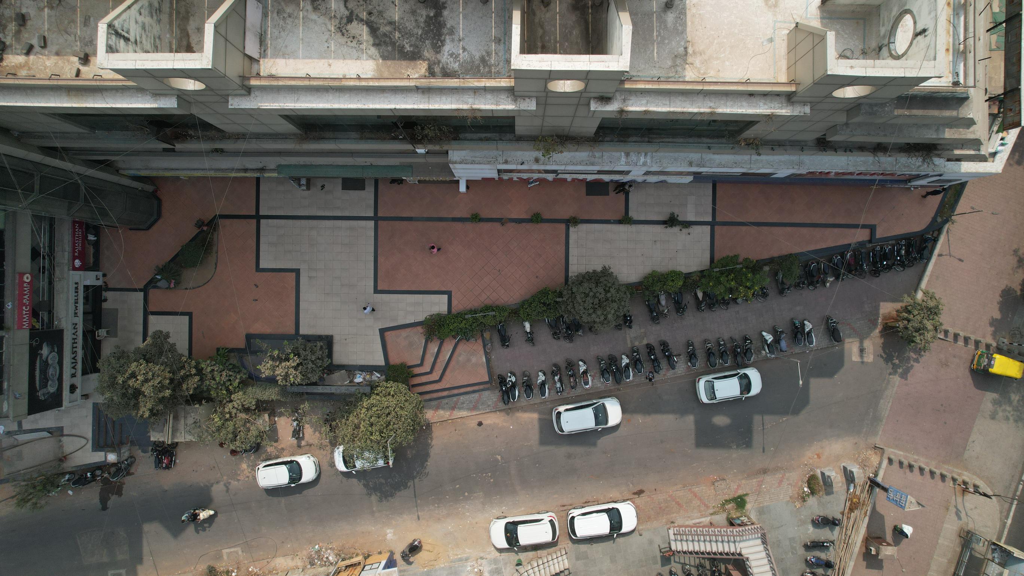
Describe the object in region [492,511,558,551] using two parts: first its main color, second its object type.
white car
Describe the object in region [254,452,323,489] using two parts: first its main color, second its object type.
white car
